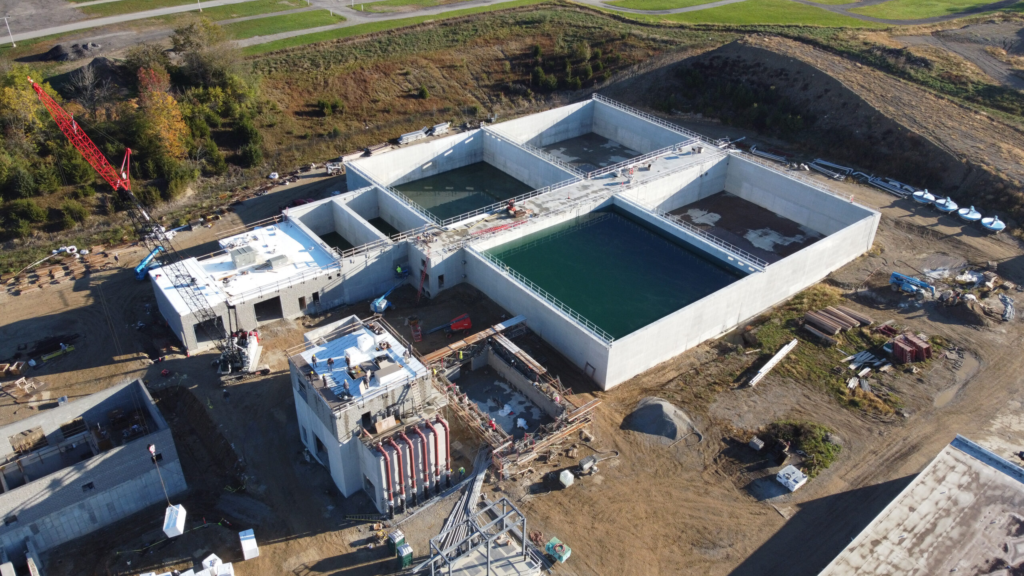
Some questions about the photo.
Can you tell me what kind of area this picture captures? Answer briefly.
industrial area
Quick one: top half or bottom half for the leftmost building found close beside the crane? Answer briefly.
bottom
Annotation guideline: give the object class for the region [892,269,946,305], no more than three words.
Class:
work vehicle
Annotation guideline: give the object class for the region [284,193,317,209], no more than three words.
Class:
vehicle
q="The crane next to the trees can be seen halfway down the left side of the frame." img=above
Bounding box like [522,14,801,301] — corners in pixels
[21,74,274,464]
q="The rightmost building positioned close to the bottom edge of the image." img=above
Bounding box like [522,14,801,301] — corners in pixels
[801,430,1024,576]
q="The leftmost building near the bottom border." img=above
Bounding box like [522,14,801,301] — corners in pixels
[0,379,190,569]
